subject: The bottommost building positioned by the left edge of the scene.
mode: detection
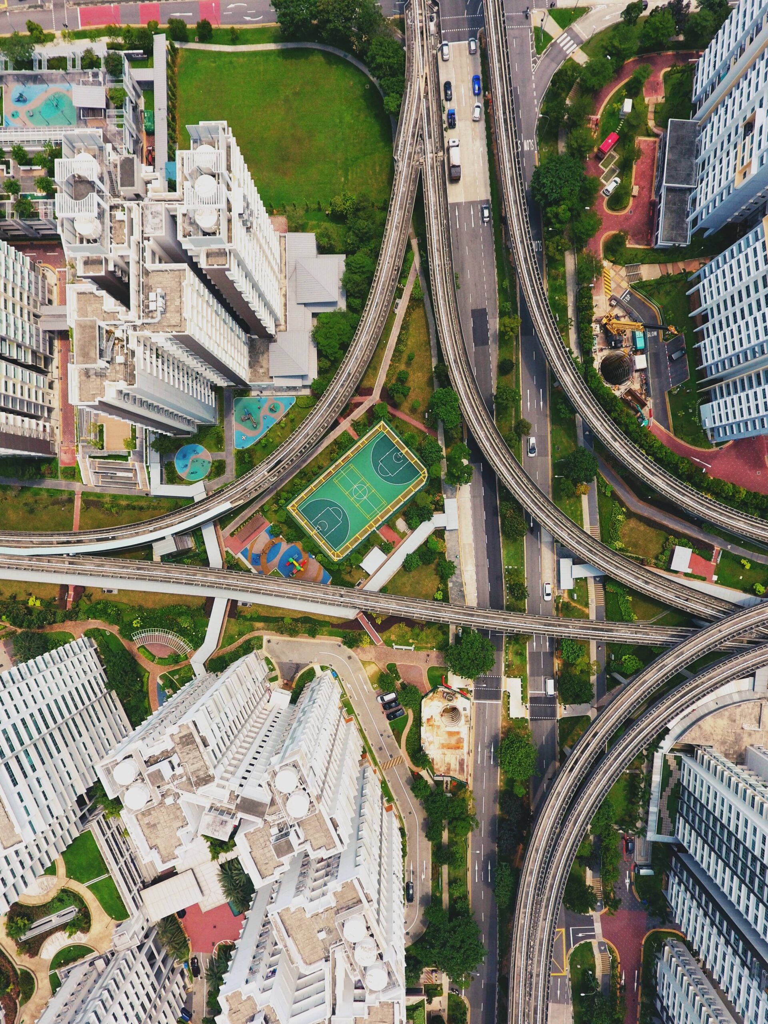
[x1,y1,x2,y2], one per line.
[36,945,197,1024]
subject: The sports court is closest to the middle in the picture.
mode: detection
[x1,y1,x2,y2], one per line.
[283,418,427,565]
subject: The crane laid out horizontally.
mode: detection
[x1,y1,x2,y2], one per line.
[593,311,678,350]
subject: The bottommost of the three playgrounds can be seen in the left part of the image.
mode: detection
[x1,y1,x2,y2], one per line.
[240,523,332,584]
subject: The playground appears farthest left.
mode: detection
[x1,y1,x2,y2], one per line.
[174,444,211,481]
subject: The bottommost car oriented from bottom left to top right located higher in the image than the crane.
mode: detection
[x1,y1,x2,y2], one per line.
[604,176,621,198]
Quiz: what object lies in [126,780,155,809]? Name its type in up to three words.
water tank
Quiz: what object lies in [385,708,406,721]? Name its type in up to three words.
vehicle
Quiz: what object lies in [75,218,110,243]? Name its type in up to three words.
water tank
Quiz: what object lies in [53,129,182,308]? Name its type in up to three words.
building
